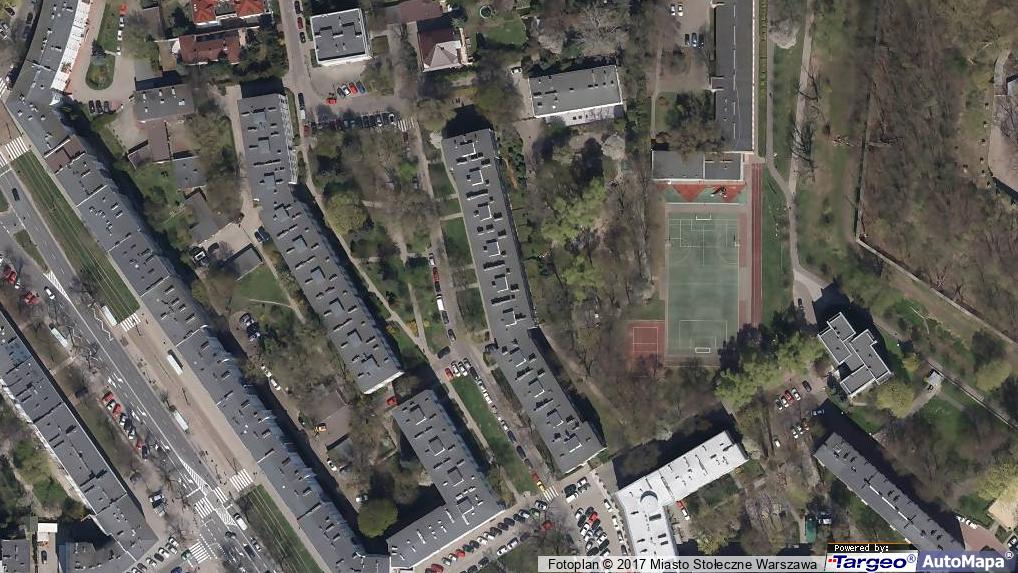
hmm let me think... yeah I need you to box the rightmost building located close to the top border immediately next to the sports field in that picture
[708,0,754,158]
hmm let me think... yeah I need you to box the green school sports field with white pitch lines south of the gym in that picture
[663,203,745,367]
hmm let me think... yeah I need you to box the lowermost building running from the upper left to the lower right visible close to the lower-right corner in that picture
[809,432,989,573]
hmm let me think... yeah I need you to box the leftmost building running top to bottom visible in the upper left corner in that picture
[4,0,90,156]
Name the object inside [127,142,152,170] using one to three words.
shed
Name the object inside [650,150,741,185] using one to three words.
building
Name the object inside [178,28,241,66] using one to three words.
house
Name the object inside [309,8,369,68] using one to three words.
house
